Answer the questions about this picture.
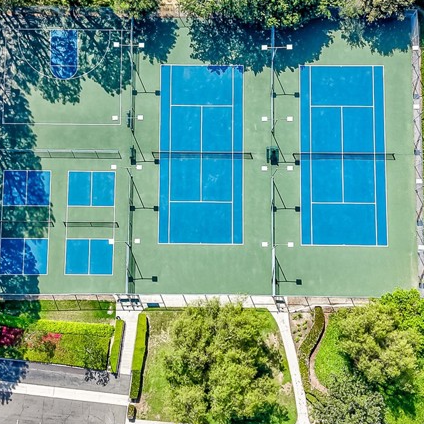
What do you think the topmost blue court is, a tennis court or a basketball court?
basketball court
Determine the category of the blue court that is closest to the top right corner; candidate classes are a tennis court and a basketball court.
tennis court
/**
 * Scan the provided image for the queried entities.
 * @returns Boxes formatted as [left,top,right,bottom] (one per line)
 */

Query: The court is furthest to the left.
[0,171,51,275]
